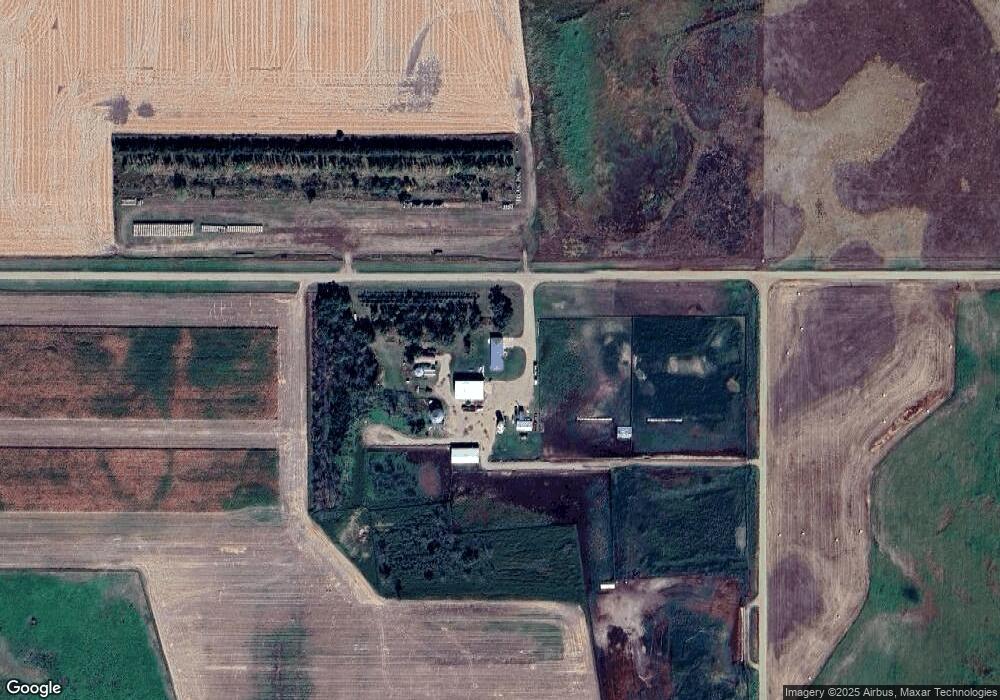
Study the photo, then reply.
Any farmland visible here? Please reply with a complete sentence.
Yes, farmland shows up in the scene.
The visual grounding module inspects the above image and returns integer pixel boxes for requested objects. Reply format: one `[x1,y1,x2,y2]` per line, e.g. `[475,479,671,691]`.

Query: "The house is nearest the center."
[490,338,507,372]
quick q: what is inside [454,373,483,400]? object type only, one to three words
barn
